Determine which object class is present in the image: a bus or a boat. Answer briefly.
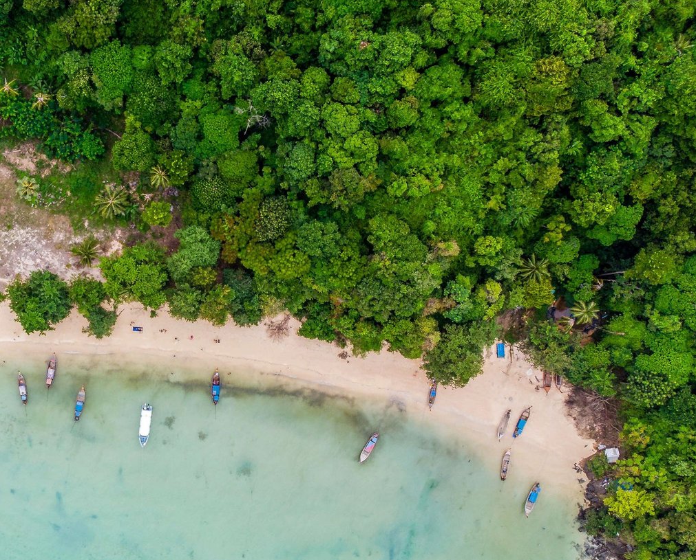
boat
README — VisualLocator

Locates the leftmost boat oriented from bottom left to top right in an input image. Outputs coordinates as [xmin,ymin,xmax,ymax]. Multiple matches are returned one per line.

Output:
[360,432,380,464]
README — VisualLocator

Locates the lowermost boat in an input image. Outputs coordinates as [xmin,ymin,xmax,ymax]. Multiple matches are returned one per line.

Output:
[526,482,541,519]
